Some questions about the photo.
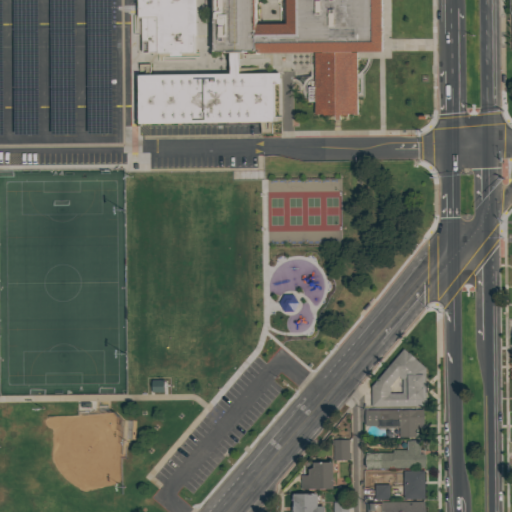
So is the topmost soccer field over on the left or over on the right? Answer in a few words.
left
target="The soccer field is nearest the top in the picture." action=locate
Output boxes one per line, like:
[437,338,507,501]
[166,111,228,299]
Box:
[0,170,126,396]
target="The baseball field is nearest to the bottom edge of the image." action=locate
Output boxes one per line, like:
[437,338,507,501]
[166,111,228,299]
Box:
[0,402,131,512]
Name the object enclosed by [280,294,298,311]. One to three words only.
gazebo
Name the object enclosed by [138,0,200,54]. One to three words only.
building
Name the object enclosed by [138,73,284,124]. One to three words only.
building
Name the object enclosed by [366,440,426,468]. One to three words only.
house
